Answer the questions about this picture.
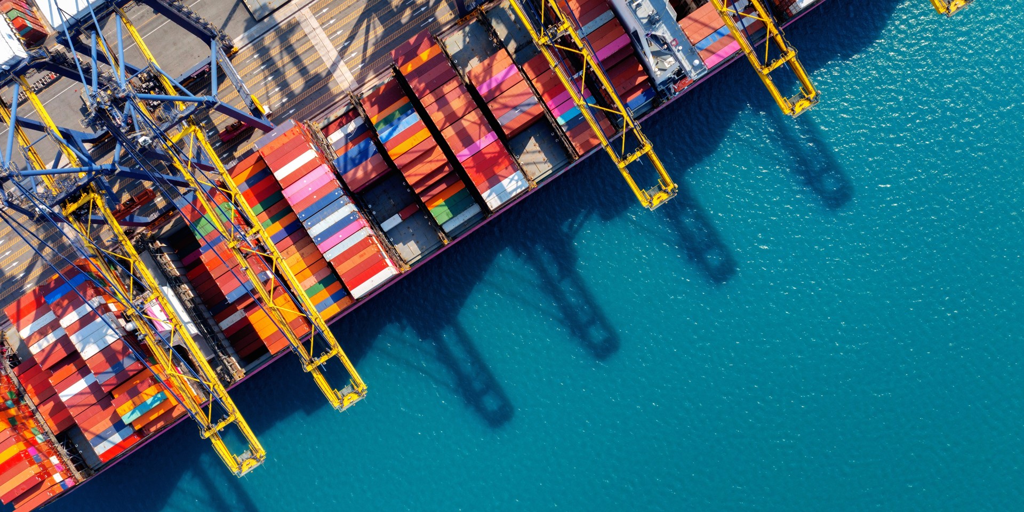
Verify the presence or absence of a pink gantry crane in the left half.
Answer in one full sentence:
No, looking in the left half, there is no pink gantry crane.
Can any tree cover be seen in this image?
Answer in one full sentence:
No, there's no tree cover in this view.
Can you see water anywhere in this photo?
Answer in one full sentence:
Yes, some water is visible.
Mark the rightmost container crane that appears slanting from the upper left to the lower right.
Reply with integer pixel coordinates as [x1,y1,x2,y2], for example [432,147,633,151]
[712,0,824,120]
